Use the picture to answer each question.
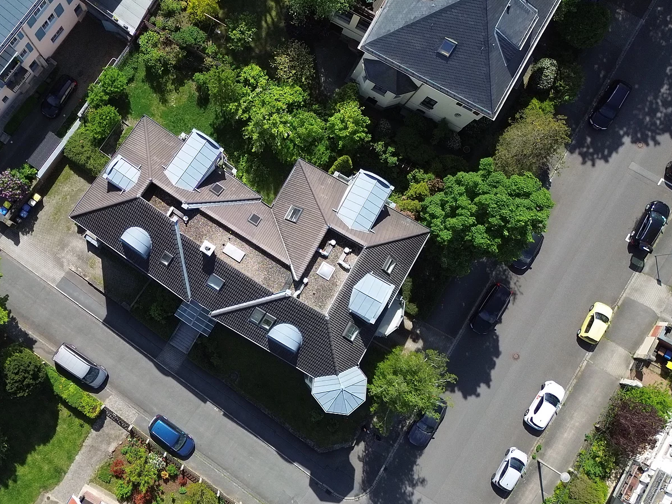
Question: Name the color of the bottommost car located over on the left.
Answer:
blue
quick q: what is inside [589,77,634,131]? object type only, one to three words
car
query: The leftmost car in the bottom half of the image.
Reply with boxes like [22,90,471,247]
[52,341,109,391]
